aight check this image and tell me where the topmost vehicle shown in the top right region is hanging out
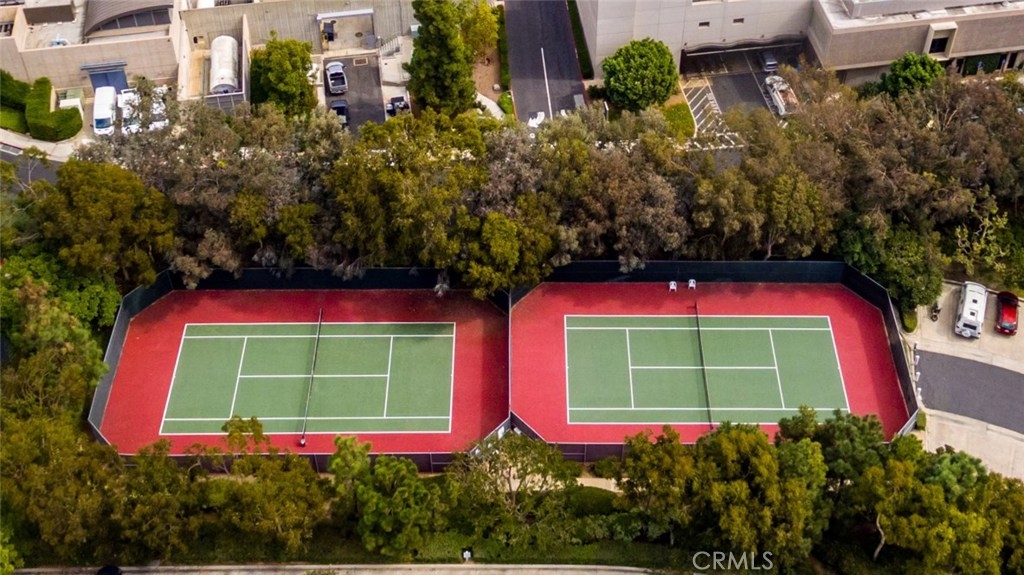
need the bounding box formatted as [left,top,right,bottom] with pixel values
[754,47,782,76]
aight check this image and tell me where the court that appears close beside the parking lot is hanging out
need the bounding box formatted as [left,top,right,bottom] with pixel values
[511,282,909,446]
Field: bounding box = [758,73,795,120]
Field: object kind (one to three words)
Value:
truck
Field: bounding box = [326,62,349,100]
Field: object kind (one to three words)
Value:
truck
